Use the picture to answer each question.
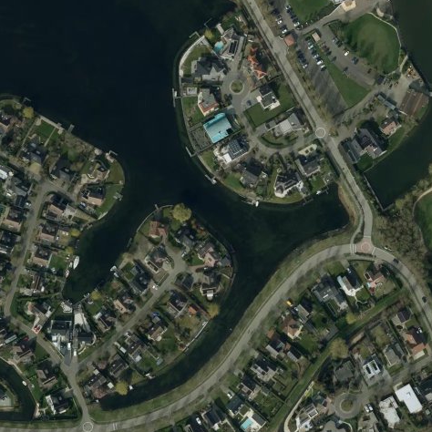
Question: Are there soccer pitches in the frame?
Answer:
No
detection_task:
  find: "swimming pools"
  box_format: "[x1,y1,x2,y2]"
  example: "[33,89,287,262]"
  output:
[213,40,223,51]
[239,416,254,430]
